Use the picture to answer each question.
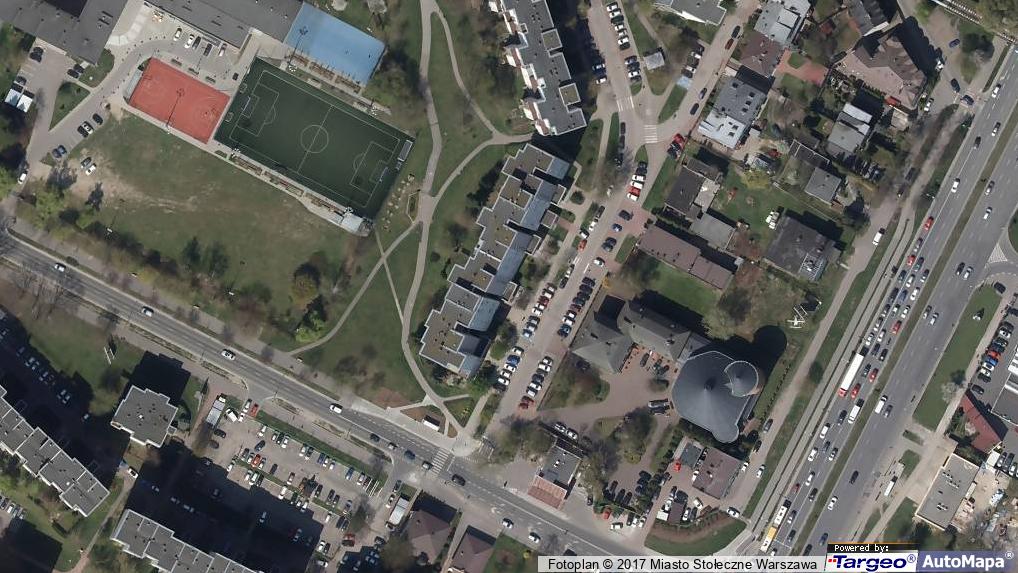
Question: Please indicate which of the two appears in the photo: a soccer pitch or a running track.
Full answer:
It is a soccer pitch that can be seen here.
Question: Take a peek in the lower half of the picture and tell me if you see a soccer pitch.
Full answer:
No, in the lower half of the picture there is no soccer pitch.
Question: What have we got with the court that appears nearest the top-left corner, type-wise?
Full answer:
It turns out the court that appears nearest the top-left corner is a basketball court.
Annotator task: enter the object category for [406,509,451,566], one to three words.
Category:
house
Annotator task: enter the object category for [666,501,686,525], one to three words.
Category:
shed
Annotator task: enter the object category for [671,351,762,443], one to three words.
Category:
building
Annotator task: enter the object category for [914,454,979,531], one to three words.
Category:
building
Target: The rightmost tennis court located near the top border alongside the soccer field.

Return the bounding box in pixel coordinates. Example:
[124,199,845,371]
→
[285,1,386,85]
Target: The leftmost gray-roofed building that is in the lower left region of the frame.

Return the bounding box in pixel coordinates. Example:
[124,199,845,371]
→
[0,385,108,518]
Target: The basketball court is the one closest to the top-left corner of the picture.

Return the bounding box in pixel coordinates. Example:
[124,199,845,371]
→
[129,58,230,143]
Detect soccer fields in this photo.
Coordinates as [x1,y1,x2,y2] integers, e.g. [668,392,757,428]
[216,58,413,217]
